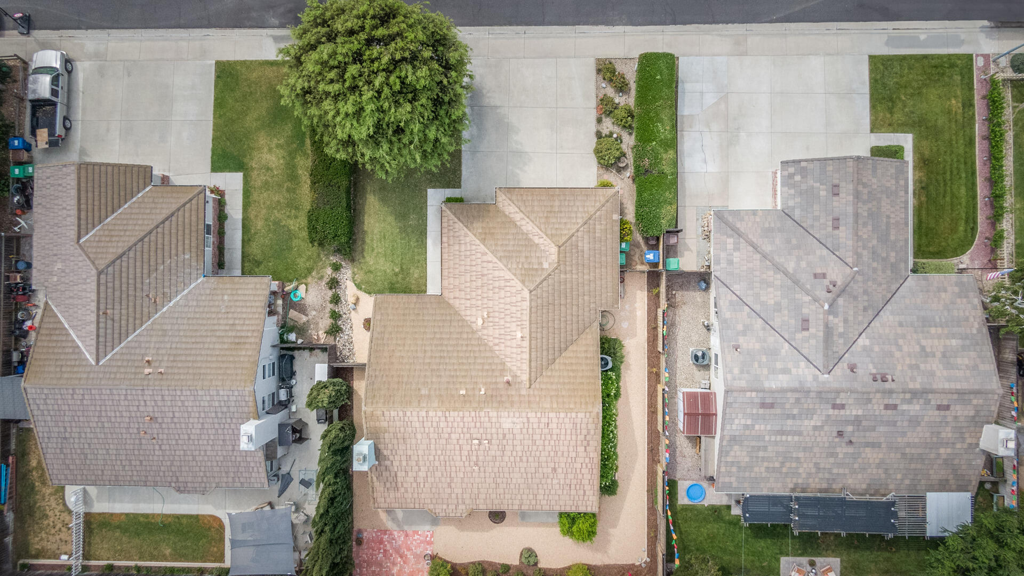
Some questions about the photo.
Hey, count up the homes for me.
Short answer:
three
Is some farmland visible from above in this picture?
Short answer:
No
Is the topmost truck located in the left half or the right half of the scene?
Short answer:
left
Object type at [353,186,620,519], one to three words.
house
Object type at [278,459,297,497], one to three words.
umbrella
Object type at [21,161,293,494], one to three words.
house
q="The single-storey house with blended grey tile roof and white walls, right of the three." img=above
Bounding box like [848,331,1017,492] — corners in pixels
[709,155,1015,494]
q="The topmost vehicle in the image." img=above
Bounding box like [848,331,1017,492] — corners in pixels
[25,49,73,148]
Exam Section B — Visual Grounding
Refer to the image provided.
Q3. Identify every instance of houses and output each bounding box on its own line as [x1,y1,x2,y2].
[353,186,620,519]
[709,155,1015,494]
[21,161,293,494]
